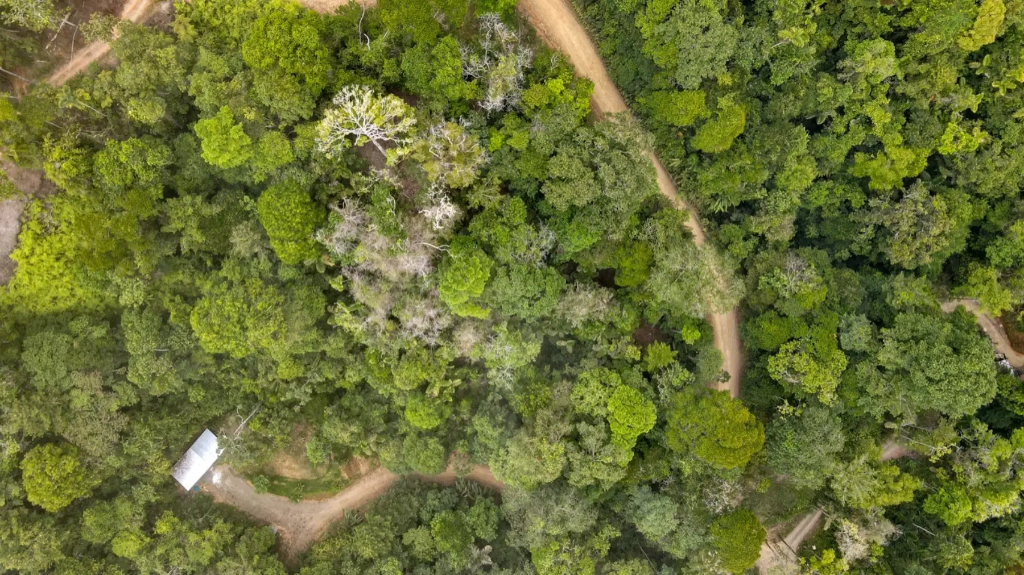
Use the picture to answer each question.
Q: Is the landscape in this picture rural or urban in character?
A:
rural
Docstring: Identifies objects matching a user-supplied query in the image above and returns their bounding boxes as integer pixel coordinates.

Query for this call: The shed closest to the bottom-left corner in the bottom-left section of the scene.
[169,429,225,490]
